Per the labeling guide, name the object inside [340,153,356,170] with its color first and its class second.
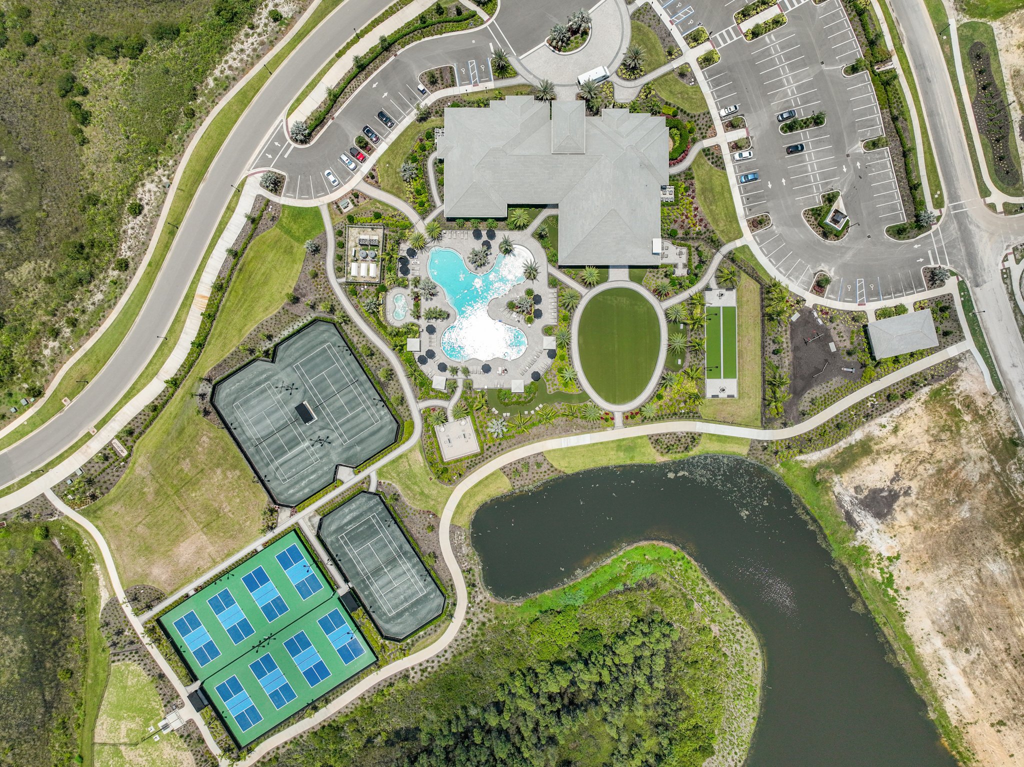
white car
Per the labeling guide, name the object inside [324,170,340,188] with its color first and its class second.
white car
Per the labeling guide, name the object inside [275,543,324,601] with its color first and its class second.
blue sports court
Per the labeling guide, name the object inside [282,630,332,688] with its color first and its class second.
blue sports court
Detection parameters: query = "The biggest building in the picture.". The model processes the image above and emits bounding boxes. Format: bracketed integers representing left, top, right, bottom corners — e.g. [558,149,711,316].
[437,95,669,265]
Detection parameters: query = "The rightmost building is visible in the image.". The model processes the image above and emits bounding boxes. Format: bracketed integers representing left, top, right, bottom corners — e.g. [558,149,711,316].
[864,309,939,359]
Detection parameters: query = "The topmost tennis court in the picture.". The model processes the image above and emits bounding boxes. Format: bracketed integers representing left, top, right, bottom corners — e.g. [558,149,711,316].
[215,320,397,505]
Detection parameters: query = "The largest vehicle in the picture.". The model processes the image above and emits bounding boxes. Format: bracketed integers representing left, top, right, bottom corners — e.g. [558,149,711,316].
[575,65,611,89]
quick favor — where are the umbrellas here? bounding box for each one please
[473,229,482,239]
[481,364,491,374]
[546,349,557,359]
[482,241,491,251]
[417,354,427,364]
[425,349,434,359]
[407,247,417,257]
[533,309,543,318]
[399,258,409,267]
[426,324,436,334]
[486,230,496,239]
[531,371,541,381]
[438,363,448,373]
[533,294,542,304]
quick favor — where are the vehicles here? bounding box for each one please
[350,147,366,163]
[776,110,796,122]
[739,173,759,183]
[362,126,380,144]
[376,111,394,128]
[417,83,426,95]
[324,170,340,188]
[785,144,803,155]
[575,65,611,89]
[340,153,356,170]
[720,105,738,118]
[733,152,753,162]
